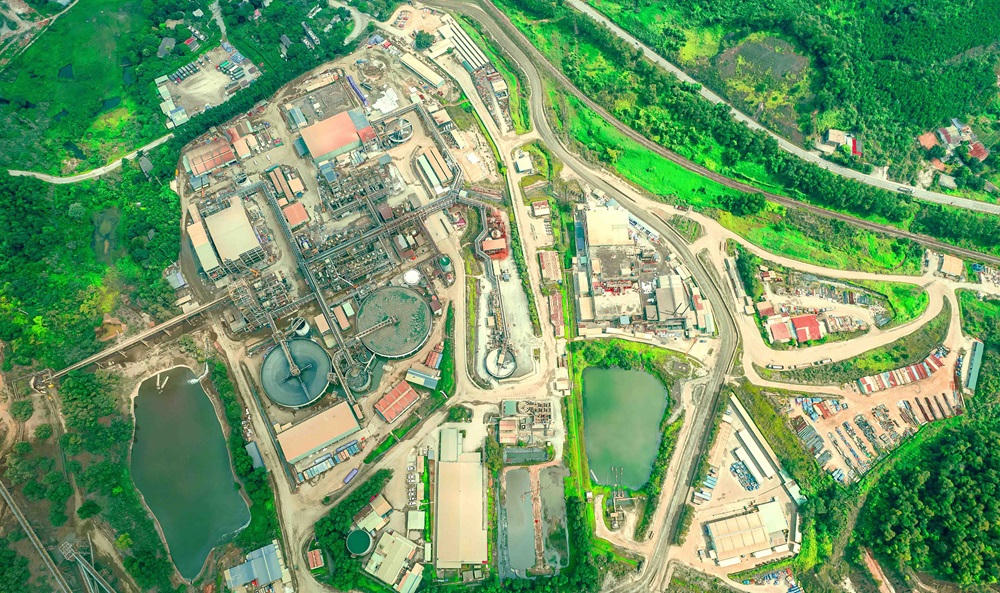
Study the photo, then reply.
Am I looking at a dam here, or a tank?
tank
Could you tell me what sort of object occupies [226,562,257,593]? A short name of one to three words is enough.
building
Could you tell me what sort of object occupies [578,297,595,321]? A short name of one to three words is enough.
shed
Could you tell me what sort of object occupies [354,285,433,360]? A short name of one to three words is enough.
storage tank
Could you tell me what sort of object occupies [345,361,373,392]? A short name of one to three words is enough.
storage tank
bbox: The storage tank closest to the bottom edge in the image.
[346,528,374,557]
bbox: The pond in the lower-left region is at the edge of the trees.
[131,366,252,581]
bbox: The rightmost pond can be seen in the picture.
[582,366,669,490]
